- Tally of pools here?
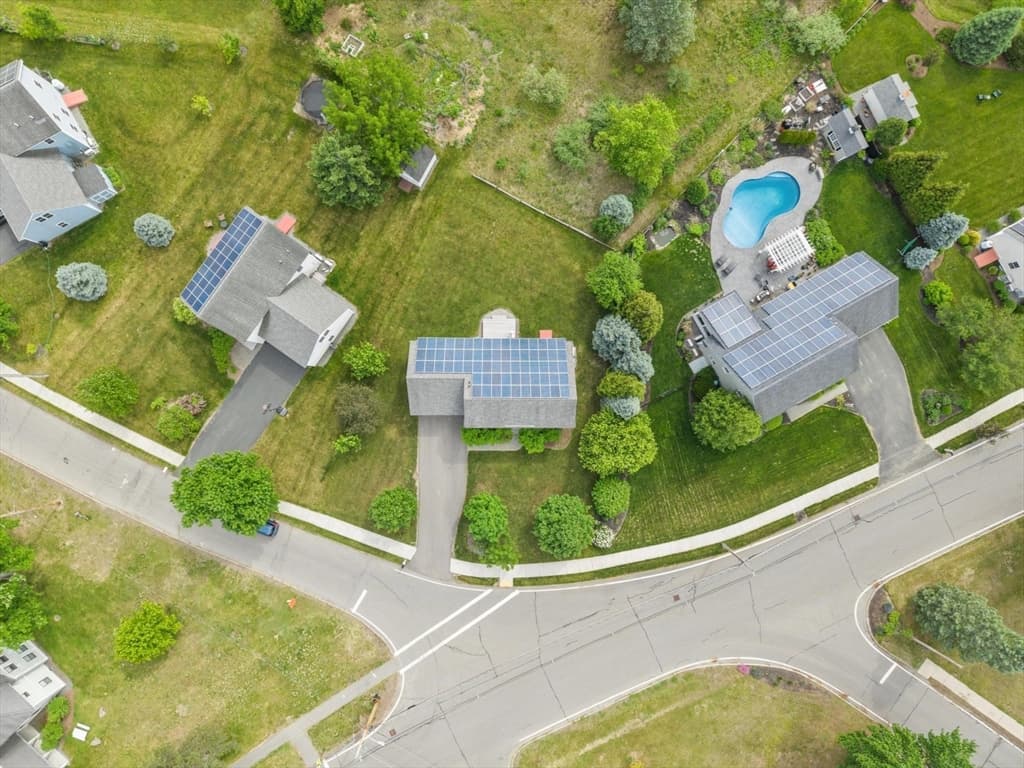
1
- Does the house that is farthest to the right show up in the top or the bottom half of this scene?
top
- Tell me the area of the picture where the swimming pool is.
top right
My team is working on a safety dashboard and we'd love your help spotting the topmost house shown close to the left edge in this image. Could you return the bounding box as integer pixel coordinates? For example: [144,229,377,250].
[0,57,118,241]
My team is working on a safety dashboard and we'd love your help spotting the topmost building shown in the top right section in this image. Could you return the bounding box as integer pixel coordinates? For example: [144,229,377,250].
[861,74,922,130]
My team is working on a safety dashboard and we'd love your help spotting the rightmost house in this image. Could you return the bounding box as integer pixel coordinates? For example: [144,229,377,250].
[975,220,1024,302]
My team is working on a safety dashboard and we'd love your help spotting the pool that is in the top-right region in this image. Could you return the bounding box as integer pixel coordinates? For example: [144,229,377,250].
[724,171,800,248]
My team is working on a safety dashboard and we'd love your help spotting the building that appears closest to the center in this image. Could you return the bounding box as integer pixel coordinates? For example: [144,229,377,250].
[406,321,577,429]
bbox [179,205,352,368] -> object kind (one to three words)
house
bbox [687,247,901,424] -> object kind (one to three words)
house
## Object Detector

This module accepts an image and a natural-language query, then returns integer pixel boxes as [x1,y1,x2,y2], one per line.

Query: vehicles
[239,512,279,534]
[0,206,8,225]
